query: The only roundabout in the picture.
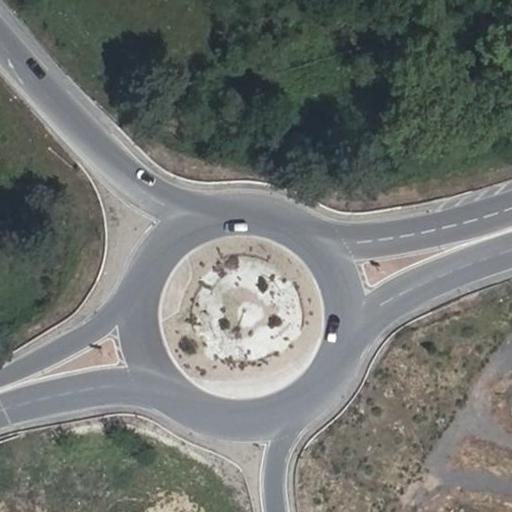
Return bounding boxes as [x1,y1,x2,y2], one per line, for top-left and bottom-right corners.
[118,194,364,440]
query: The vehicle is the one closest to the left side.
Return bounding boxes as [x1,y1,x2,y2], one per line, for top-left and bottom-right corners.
[26,58,46,79]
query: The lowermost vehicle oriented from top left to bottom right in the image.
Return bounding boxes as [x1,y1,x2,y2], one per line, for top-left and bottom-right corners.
[135,168,157,186]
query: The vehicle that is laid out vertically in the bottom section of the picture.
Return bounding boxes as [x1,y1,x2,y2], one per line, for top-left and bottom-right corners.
[328,314,340,342]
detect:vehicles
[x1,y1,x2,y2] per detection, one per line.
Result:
[26,58,46,79]
[328,314,340,342]
[135,168,157,186]
[226,222,248,233]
